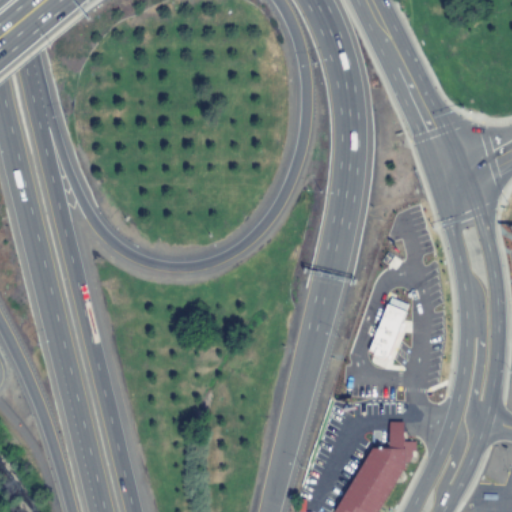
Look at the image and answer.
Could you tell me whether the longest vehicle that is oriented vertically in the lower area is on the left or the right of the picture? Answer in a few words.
left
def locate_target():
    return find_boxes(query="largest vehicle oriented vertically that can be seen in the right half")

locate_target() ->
[334,36,350,70]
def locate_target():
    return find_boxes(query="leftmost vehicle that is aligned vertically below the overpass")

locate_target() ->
[13,168,27,200]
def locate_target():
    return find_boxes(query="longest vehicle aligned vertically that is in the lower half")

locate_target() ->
[82,285,101,342]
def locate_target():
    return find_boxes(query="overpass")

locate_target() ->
[0,0,108,84]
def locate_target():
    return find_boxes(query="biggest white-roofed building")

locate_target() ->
[370,298,414,360]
